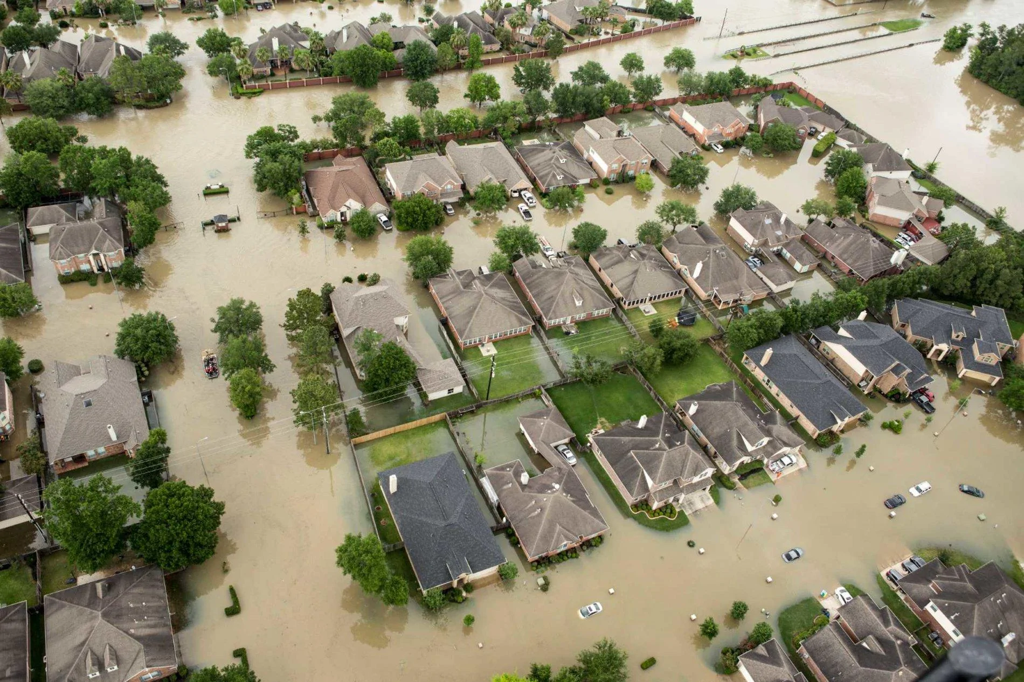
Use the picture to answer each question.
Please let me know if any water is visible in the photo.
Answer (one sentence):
Yes, there's water in this view.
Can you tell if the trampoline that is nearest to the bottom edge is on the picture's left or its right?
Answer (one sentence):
The trampoline that is nearest to the bottom edge is on the right side of the image.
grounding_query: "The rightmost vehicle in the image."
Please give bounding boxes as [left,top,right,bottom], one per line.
[956,483,987,501]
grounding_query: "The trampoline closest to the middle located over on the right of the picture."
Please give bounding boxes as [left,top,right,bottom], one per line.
[674,304,700,325]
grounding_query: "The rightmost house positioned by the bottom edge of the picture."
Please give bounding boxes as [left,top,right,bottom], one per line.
[892,553,1024,671]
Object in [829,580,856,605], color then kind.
white car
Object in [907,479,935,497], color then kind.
white car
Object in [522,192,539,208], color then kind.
white vehicle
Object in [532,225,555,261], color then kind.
white truck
